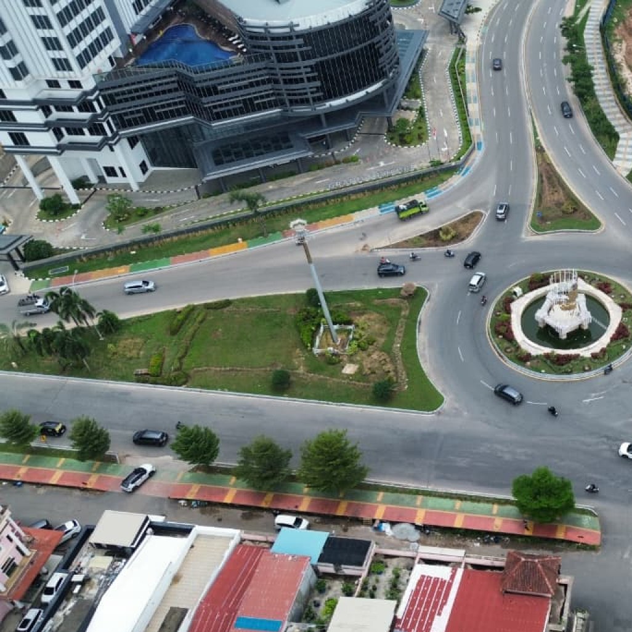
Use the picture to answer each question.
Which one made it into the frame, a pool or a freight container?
pool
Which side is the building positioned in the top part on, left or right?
left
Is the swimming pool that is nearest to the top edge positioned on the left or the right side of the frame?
left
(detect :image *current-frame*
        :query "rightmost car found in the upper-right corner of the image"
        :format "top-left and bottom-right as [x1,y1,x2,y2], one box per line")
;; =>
[560,101,573,118]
